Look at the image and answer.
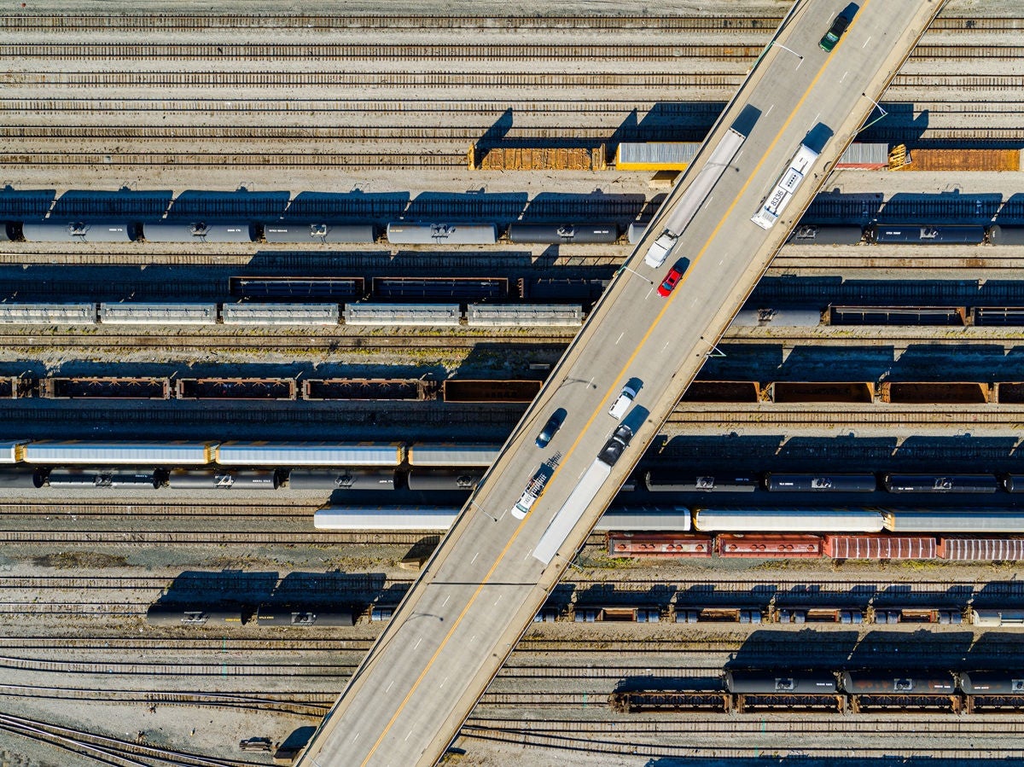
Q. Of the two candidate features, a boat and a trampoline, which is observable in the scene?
boat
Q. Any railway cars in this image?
Yes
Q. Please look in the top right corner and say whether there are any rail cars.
Yes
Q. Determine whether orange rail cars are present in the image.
Yes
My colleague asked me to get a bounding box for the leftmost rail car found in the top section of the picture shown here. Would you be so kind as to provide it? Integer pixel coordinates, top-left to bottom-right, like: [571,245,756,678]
[0,222,20,245]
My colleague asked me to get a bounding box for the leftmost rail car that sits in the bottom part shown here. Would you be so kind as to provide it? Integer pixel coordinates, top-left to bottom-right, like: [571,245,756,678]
[0,467,51,489]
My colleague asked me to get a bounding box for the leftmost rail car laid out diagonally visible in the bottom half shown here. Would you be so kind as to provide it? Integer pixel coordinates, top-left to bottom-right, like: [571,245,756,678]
[620,469,641,491]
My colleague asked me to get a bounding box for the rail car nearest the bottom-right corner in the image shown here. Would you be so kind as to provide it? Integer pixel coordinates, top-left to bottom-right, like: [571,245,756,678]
[954,667,1024,696]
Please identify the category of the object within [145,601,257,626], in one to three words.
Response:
rail car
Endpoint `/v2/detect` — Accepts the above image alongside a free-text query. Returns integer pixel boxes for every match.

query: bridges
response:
[274,0,943,767]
